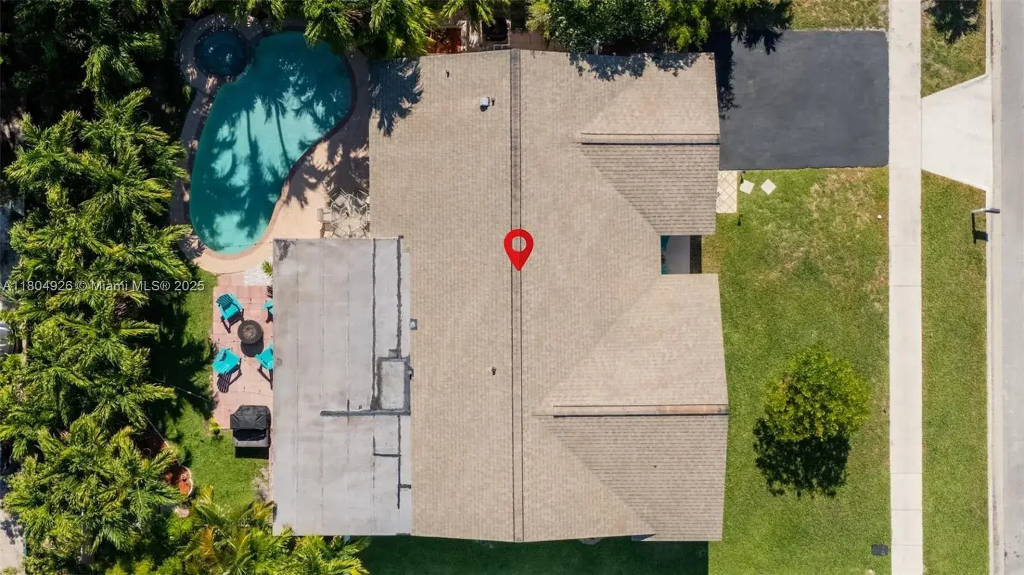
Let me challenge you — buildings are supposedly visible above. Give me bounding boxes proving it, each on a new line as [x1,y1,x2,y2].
[272,49,728,544]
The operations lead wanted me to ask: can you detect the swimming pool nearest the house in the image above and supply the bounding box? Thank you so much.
[182,24,360,260]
